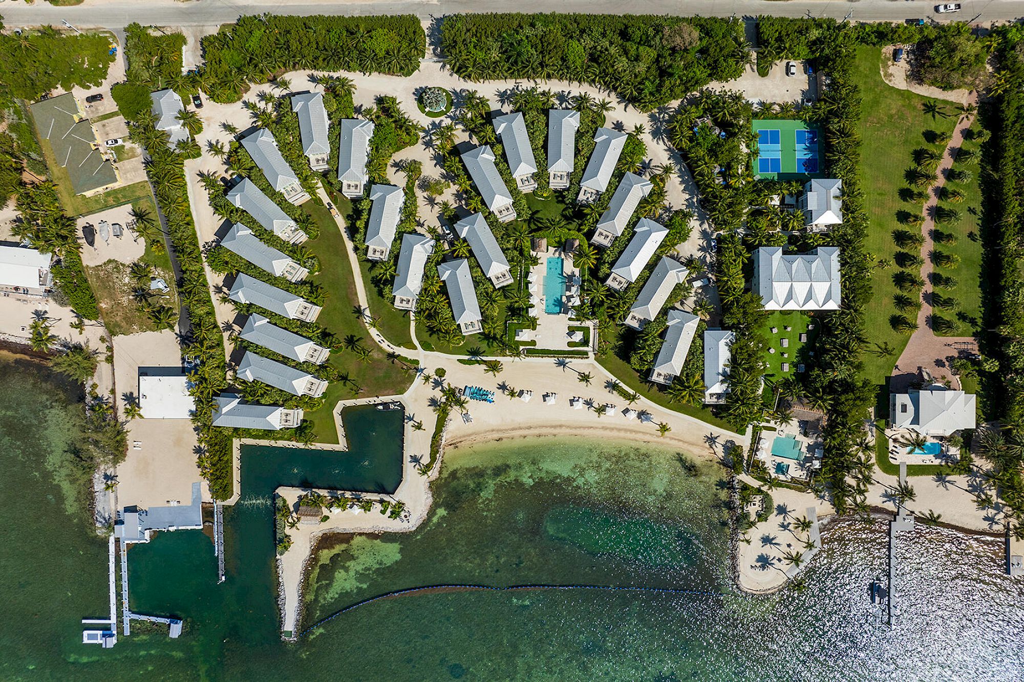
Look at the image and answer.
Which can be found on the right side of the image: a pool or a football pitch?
pool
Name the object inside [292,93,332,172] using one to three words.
house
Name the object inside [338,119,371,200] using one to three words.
house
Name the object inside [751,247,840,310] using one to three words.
building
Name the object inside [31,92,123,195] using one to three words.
building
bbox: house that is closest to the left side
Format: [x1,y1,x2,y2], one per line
[0,246,58,297]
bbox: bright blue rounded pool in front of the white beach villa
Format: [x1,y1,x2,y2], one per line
[888,428,959,464]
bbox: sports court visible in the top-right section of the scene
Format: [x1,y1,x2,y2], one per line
[753,117,828,180]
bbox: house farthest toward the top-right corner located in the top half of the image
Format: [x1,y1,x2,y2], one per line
[797,179,842,233]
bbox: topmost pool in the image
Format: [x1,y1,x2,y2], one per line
[521,248,597,353]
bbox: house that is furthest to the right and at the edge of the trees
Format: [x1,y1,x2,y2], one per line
[886,372,976,436]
